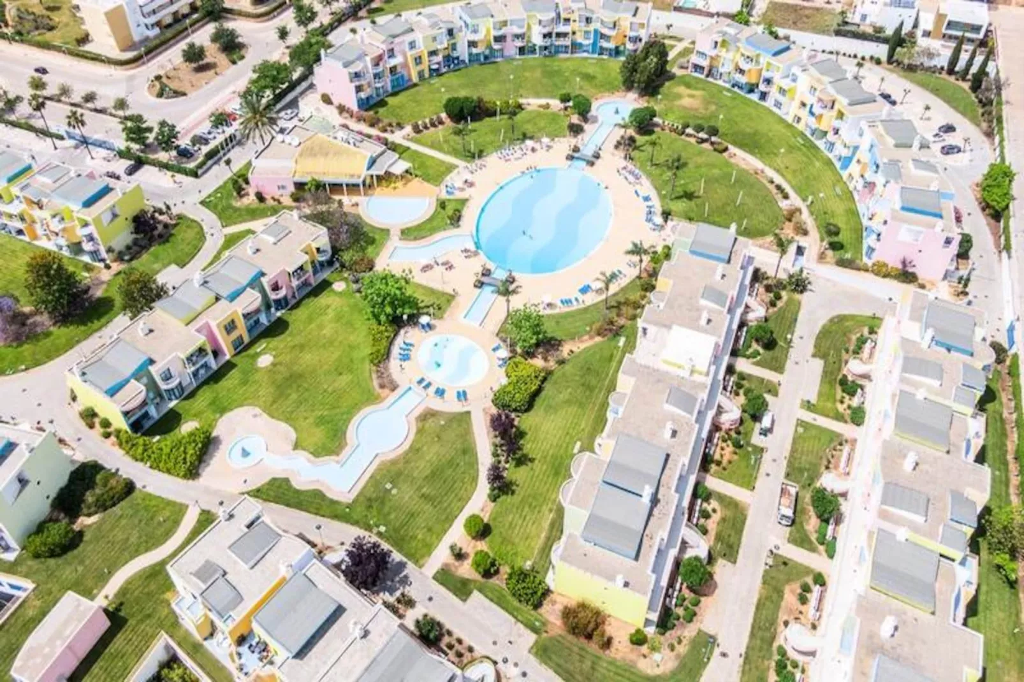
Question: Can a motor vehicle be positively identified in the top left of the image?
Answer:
Yes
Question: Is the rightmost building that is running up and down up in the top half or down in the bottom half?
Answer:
bottom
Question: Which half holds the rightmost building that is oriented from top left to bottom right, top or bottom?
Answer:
top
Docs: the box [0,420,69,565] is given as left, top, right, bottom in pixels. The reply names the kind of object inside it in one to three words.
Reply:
building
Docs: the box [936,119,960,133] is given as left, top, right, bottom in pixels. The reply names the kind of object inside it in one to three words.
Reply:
car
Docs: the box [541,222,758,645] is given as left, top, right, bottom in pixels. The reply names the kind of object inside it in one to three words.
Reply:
building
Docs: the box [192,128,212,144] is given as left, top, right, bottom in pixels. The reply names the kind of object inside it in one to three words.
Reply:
car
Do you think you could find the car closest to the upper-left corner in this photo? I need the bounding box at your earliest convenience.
[29,62,51,75]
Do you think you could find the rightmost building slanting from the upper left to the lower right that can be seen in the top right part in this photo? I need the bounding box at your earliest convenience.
[687,11,961,274]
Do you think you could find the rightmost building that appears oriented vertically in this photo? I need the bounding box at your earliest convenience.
[805,288,997,682]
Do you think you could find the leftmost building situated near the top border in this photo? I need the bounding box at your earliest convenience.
[89,0,205,51]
